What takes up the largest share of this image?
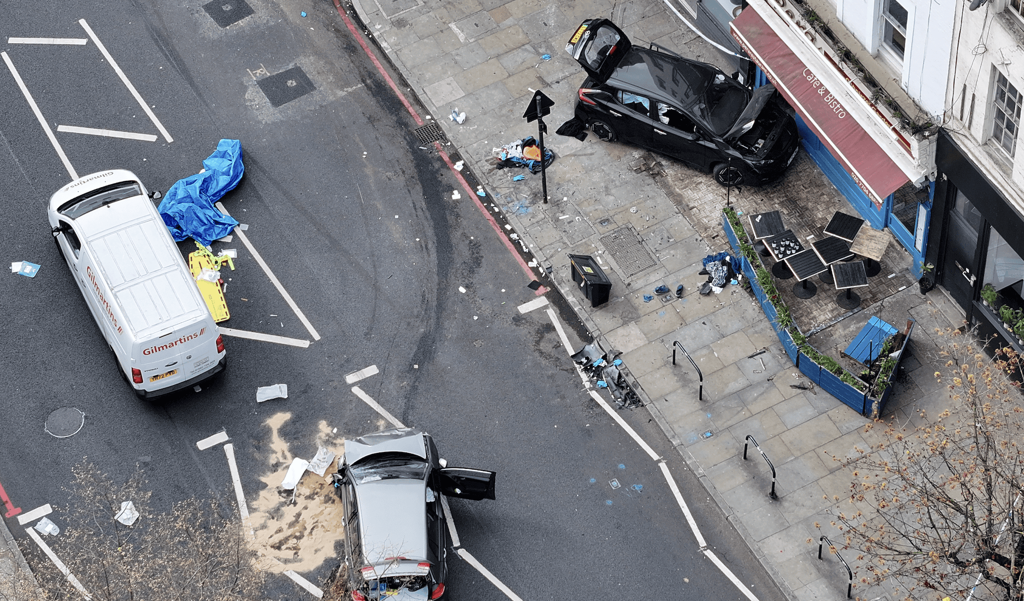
paved ground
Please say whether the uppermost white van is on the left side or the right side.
left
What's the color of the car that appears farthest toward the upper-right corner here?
black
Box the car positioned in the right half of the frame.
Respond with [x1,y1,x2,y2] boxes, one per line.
[556,23,802,184]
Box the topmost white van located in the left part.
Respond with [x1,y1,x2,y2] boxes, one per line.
[47,174,226,400]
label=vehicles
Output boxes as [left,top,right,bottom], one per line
[556,23,802,184]
[331,431,499,601]
[47,174,226,400]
